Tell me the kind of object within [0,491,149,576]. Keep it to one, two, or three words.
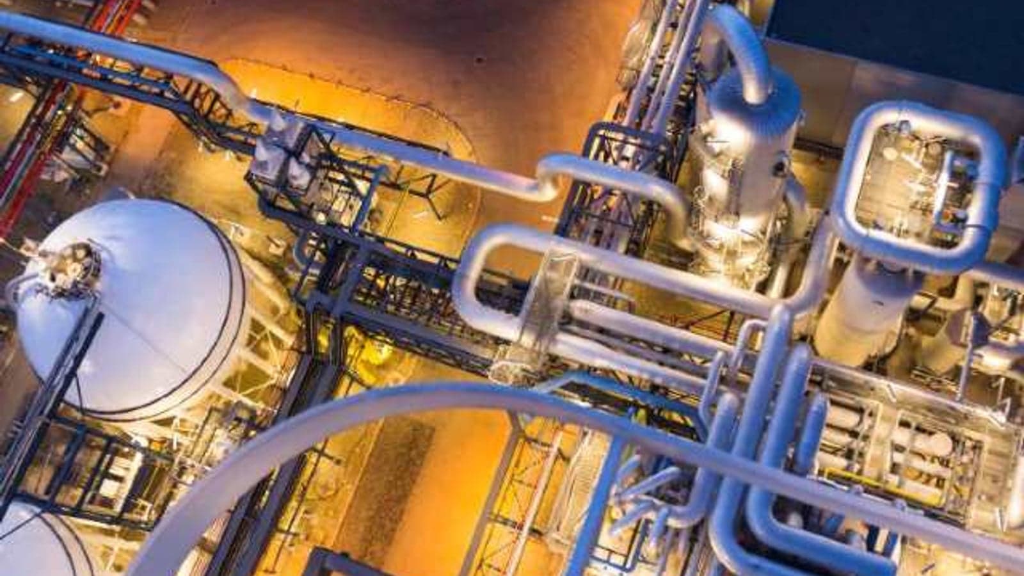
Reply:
storage tank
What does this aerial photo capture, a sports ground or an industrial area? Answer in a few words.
industrial area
